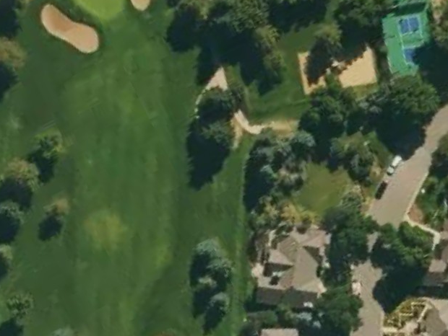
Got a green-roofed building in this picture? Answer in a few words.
No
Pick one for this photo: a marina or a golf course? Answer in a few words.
golf course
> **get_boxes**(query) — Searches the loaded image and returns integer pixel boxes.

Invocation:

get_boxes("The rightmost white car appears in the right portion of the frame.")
[388,157,401,173]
